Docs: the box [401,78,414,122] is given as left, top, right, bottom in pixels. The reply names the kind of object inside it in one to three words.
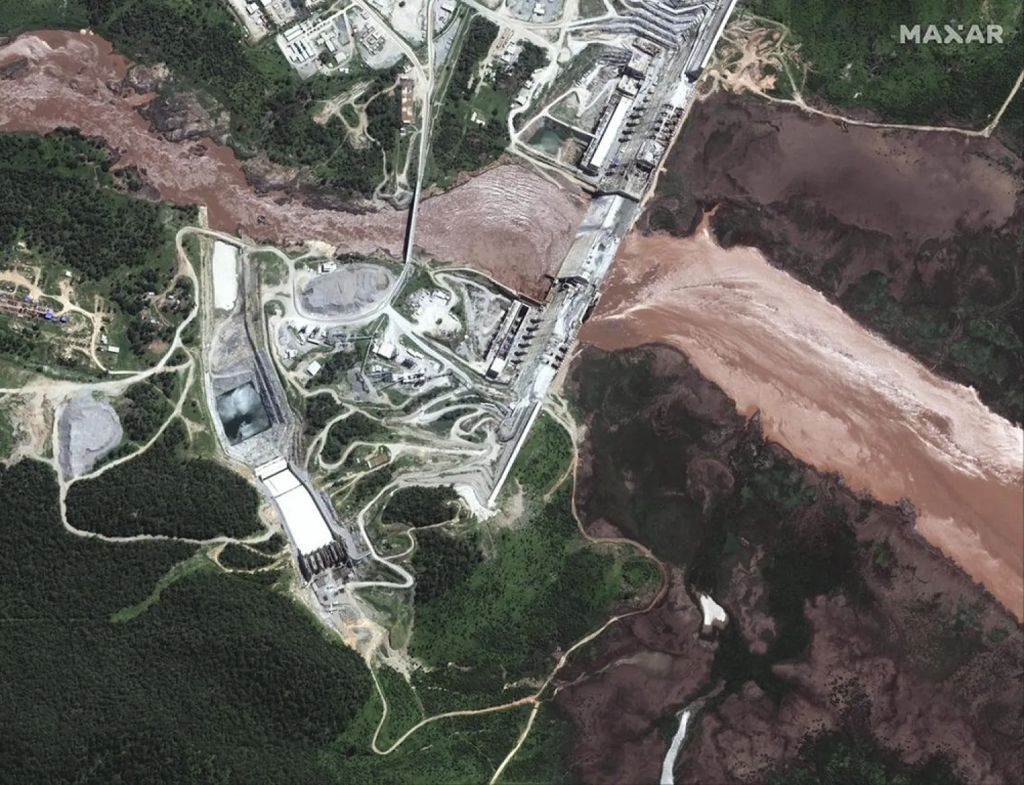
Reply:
building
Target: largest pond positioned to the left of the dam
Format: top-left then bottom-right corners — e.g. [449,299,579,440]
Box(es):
[216,382,271,445]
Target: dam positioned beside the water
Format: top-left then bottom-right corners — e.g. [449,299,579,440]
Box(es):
[488,0,735,506]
